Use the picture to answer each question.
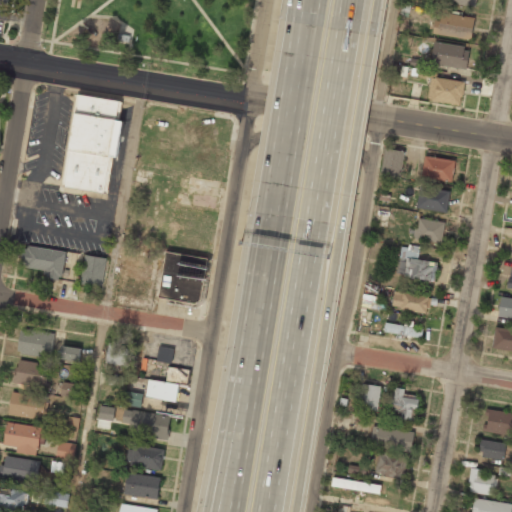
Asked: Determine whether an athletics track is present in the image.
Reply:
No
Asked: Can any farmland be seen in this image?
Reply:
No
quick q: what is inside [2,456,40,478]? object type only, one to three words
house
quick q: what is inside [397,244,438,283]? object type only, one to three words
house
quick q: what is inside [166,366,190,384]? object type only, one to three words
building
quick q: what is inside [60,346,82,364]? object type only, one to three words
building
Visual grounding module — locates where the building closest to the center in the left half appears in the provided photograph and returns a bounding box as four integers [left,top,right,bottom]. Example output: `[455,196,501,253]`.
[159,250,209,302]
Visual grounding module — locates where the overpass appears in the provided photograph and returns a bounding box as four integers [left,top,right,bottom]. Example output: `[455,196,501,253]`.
[258,83,375,148]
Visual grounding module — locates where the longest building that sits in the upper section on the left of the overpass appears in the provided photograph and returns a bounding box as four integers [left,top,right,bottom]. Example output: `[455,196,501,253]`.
[62,95,123,200]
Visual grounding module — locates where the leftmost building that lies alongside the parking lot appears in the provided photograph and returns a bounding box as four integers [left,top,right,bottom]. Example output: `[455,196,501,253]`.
[24,246,66,282]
